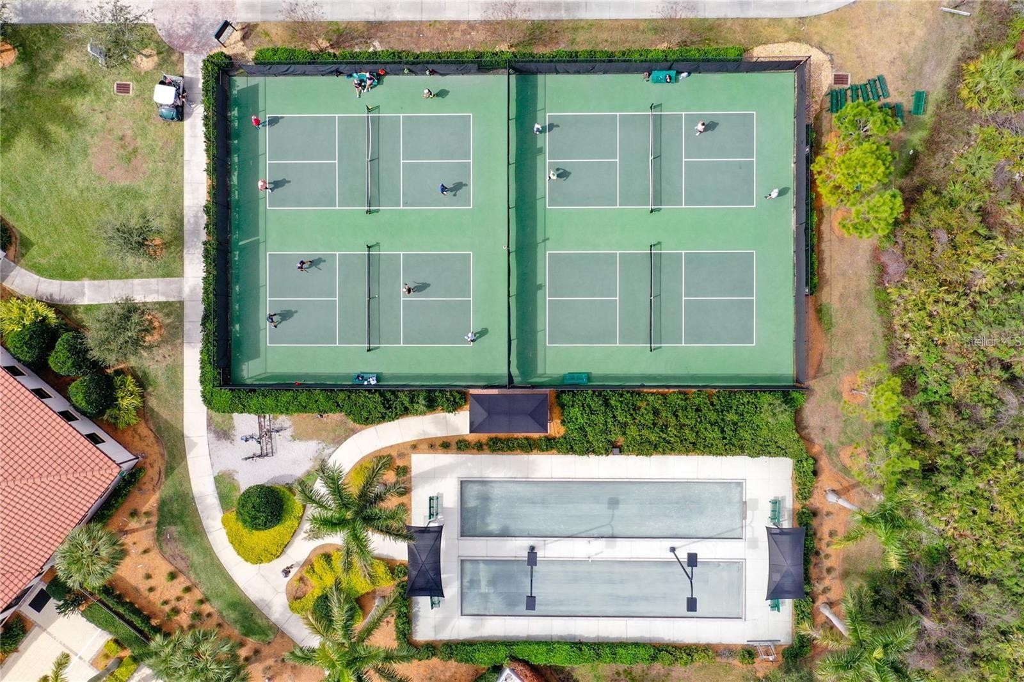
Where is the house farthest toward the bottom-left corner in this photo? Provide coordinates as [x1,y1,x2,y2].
[0,341,139,626]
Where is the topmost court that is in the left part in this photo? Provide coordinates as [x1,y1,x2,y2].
[267,113,473,209]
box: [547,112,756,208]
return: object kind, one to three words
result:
sports court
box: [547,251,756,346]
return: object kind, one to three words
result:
sports court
